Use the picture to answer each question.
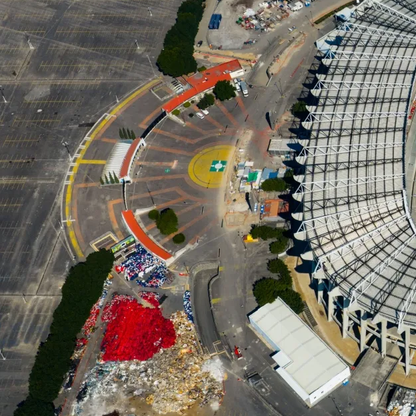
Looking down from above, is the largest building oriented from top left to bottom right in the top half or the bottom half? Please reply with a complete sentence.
You can find the largest building oriented from top left to bottom right in the bottom half.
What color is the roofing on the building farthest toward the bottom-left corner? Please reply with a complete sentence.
The roof of the building farthest toward the bottom-left corner is red.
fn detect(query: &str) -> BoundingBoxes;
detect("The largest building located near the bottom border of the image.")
[248,296,351,408]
